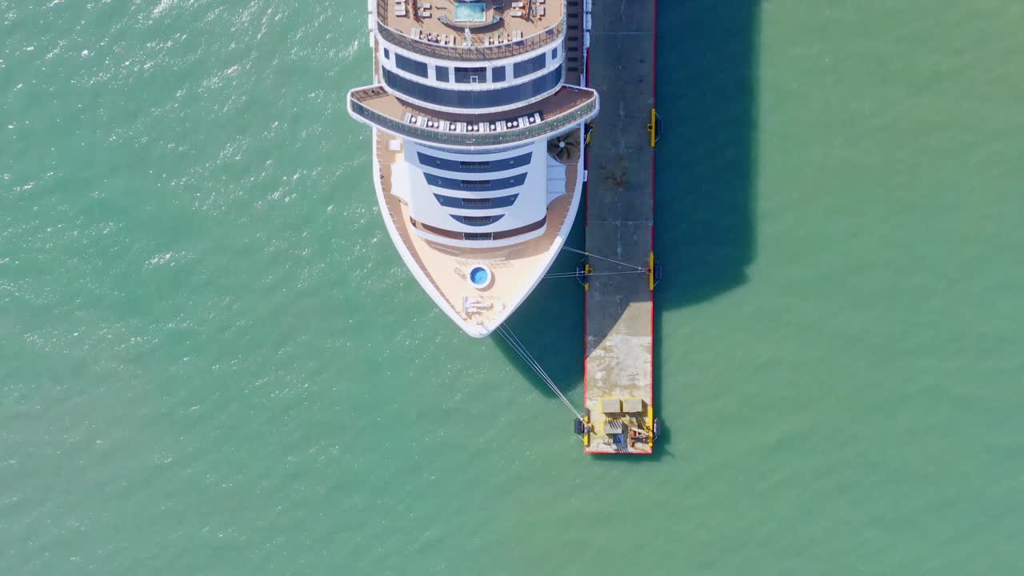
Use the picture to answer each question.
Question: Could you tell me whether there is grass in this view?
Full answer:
No, there is no grass in the image.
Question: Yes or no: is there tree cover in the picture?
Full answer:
No, tree cover can't be seen anywhere here.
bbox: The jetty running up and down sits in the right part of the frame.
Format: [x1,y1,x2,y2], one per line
[583,0,658,454]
